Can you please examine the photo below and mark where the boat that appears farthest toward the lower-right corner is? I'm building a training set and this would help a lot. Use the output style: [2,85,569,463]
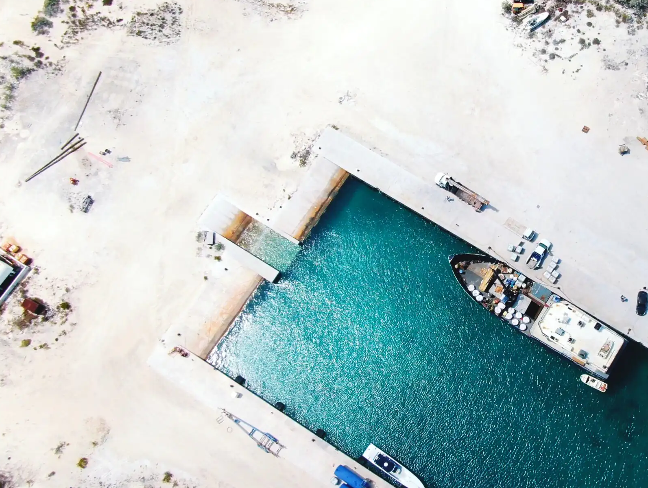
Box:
[580,374,610,393]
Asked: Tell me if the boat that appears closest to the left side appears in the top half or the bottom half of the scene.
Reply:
bottom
